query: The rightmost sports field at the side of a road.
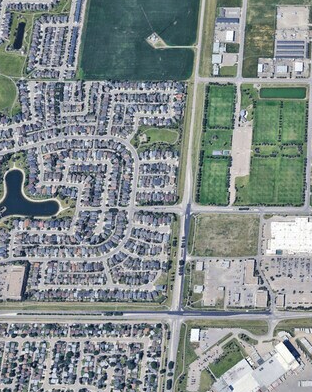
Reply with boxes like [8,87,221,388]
[281,102,308,143]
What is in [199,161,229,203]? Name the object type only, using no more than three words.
sports field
